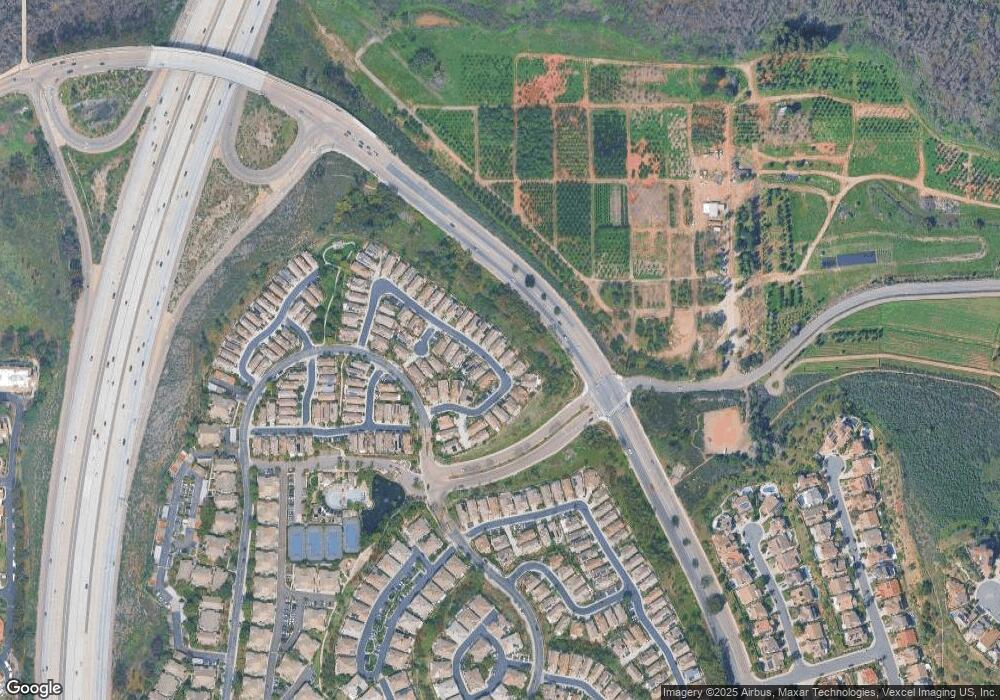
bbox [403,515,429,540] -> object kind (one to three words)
house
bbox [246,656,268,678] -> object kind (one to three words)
building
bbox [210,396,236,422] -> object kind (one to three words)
building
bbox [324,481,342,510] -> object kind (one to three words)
swimming pool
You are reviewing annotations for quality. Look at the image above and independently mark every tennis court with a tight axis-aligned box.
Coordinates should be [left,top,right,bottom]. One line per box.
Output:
[325,525,342,560]
[306,525,323,560]
[288,525,305,560]
[343,518,359,554]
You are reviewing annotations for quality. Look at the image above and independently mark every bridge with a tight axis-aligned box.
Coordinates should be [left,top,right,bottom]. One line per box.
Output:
[149,46,266,92]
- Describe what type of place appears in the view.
residential area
